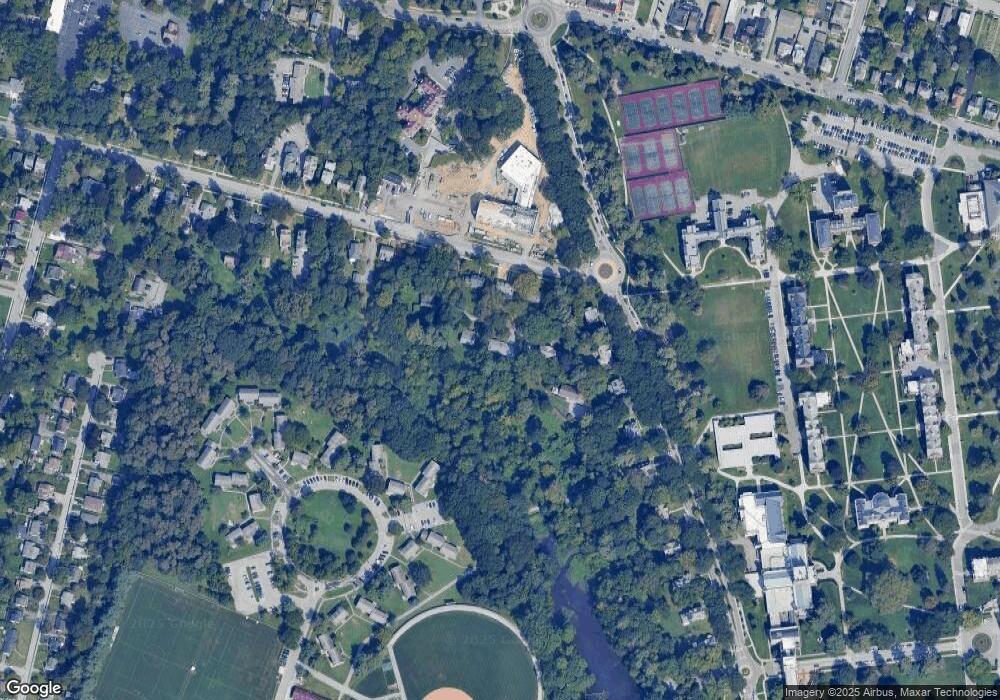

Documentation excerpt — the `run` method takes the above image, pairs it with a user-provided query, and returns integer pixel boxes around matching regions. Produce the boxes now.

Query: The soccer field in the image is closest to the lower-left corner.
[90,573,283,700]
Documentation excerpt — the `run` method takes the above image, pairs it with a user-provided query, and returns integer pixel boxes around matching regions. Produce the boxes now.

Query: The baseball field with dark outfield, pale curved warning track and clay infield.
[387,606,542,700]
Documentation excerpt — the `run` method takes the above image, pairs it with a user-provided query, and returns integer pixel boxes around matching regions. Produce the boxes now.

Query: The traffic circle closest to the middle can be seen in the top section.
[587,253,621,287]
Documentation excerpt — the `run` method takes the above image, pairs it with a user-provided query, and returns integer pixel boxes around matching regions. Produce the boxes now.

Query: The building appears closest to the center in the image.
[487,337,511,355]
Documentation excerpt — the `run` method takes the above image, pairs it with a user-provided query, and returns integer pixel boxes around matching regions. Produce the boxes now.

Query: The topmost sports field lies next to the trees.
[678,113,790,197]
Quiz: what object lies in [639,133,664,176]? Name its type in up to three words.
tennis court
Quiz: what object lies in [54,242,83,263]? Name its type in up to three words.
house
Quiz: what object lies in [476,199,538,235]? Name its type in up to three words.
building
